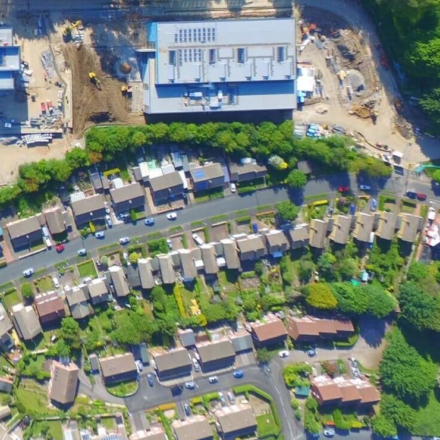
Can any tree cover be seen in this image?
Yes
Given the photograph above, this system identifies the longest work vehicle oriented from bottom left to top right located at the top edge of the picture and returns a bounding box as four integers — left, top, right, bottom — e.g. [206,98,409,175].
[62,17,83,37]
